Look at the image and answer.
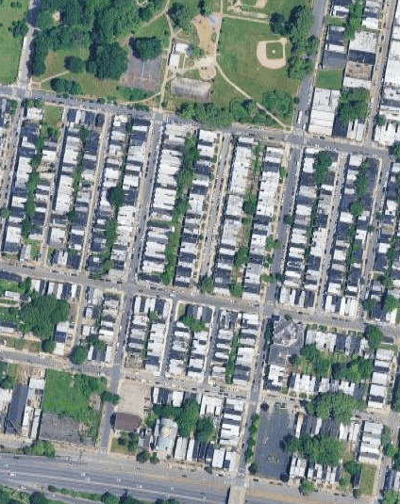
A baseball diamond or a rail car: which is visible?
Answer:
baseball diamond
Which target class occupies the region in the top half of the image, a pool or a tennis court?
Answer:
tennis court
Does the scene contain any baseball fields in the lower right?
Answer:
No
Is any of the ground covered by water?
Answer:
No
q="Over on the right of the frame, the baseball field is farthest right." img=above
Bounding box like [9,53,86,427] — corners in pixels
[257,33,289,68]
